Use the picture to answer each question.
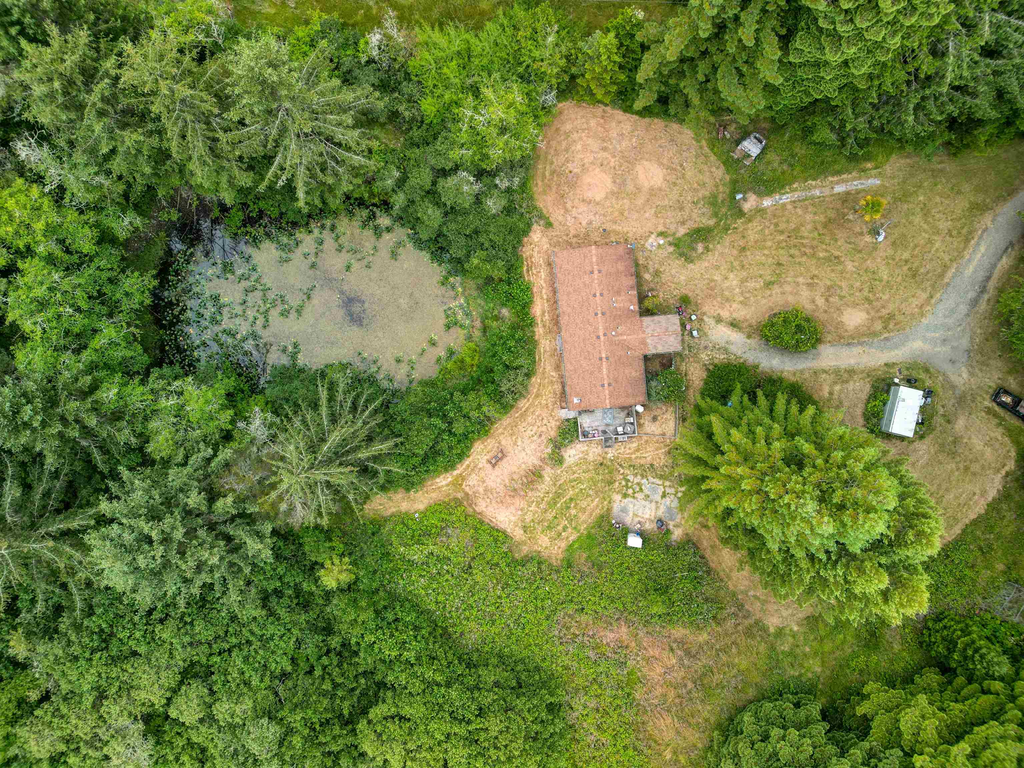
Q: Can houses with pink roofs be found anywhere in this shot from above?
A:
No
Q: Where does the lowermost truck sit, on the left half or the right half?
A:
right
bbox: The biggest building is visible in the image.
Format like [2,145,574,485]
[552,243,681,413]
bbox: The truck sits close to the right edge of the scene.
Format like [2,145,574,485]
[990,387,1024,419]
